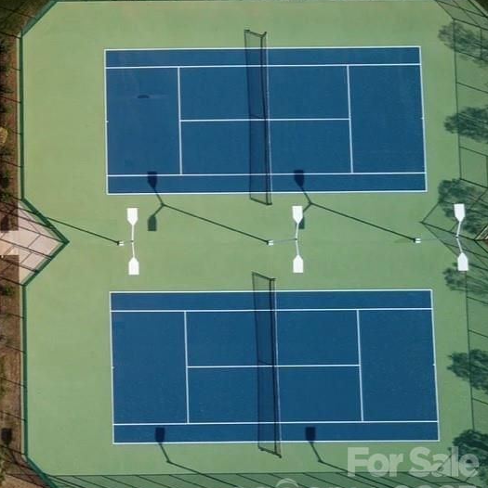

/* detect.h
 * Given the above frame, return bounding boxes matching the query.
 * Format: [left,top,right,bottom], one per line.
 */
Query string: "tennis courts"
[105,46,427,194]
[111,291,438,443]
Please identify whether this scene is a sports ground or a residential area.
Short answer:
sports ground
